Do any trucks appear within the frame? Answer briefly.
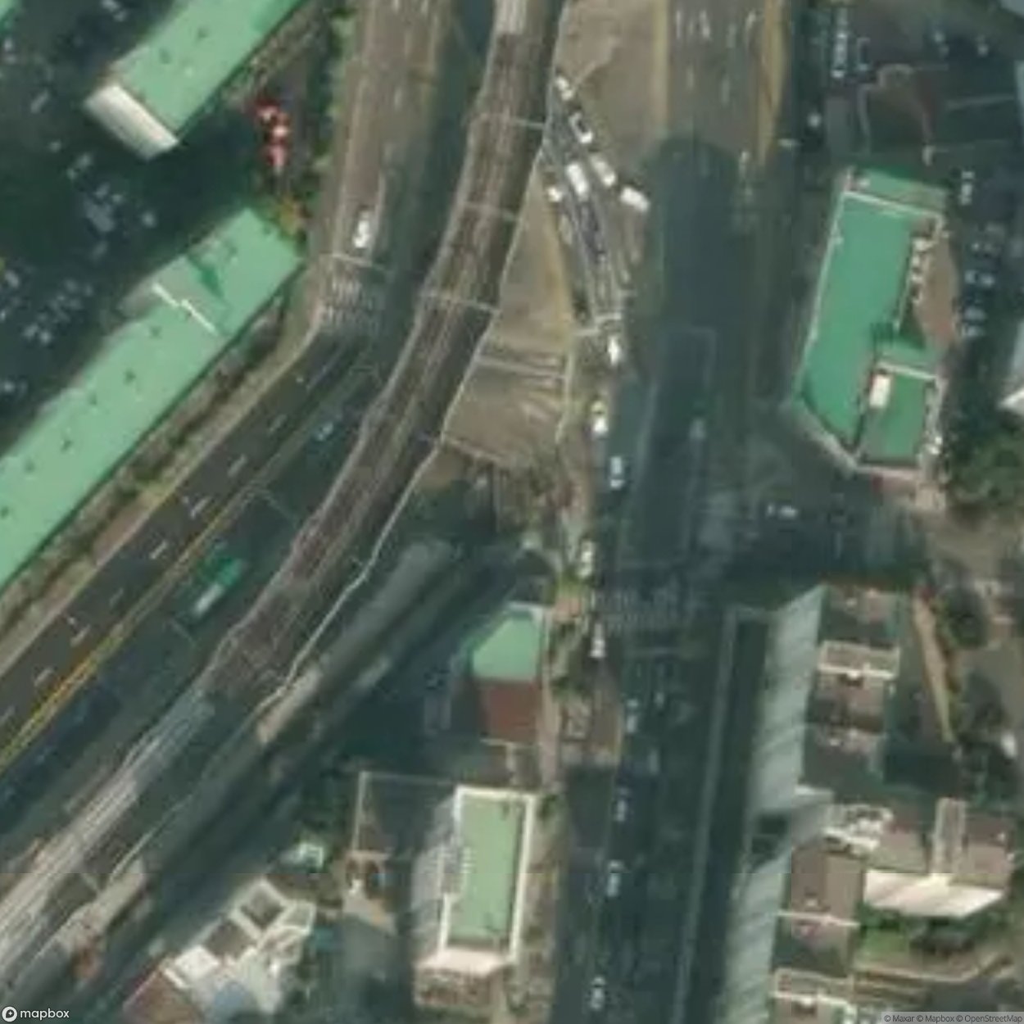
Yes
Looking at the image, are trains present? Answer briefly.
Yes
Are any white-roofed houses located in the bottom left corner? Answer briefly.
Yes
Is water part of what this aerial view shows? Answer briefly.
No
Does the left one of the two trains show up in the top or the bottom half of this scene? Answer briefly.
bottom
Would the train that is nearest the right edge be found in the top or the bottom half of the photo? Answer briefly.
top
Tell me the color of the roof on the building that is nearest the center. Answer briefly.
green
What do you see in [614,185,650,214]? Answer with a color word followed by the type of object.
white truck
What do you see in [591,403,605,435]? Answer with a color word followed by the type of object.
white vehicle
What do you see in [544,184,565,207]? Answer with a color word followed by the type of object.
white car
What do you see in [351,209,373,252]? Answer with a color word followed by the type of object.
white vehicle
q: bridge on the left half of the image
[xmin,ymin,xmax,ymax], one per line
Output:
[0,0,574,981]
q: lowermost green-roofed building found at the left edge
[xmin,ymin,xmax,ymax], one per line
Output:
[0,207,308,591]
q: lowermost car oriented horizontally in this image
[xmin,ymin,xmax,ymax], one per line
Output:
[764,505,796,519]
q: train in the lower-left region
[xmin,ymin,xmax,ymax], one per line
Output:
[0,701,208,929]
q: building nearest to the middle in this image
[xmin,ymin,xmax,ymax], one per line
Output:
[455,605,547,686]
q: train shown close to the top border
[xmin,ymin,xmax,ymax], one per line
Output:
[500,0,536,38]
